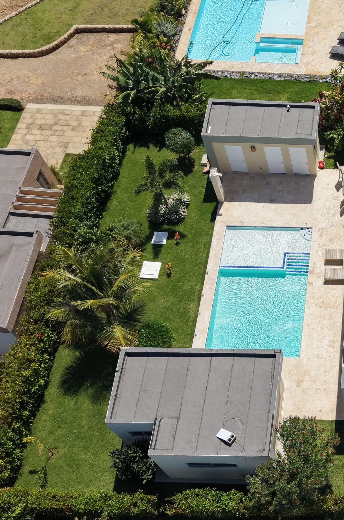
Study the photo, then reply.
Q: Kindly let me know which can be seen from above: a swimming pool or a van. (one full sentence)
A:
The image shows a swimming pool.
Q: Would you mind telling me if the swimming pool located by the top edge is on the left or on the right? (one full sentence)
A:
You can find the swimming pool located by the top edge on the right side of the picture.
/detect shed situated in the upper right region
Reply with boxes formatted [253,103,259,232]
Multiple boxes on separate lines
[201,99,331,173]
